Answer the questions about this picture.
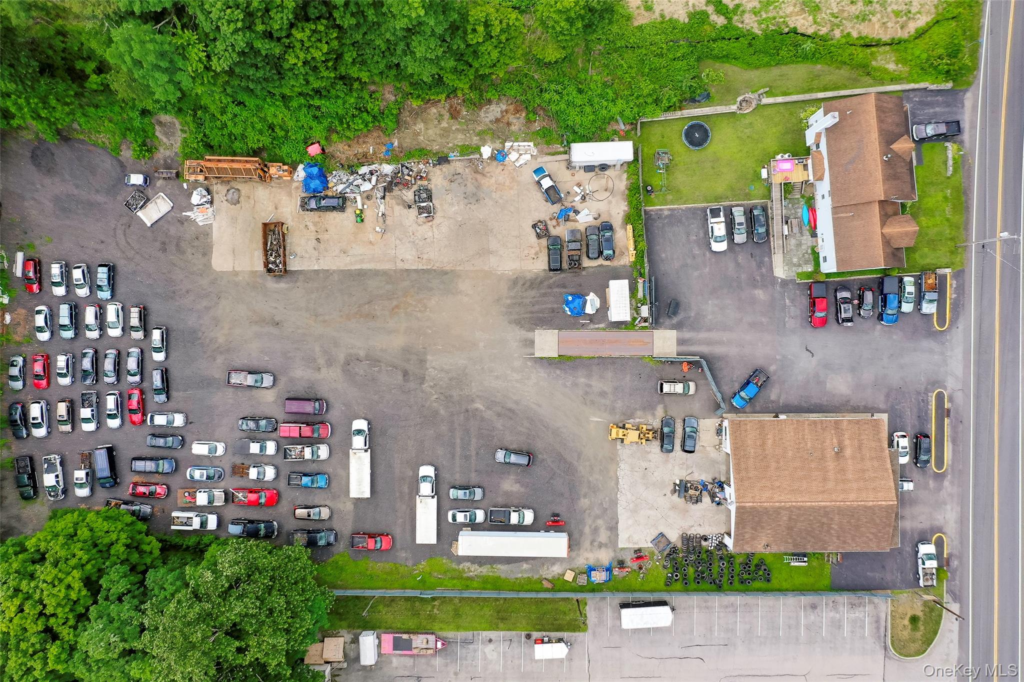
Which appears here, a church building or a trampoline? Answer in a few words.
trampoline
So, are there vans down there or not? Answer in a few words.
Yes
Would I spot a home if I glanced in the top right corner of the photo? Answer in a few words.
Yes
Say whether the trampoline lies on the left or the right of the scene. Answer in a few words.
right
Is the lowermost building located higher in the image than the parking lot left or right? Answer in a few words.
right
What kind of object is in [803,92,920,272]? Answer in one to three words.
house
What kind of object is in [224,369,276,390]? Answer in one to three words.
truck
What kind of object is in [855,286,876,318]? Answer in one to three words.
car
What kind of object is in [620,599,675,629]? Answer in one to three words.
trailer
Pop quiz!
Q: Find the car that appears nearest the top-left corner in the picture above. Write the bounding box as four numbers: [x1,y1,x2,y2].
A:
[125,171,151,188]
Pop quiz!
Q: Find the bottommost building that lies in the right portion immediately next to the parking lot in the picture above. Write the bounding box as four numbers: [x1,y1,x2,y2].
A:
[720,418,900,553]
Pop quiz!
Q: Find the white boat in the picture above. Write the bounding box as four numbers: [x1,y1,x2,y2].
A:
[582,291,602,314]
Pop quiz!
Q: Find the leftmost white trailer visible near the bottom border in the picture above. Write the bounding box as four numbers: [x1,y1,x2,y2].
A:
[359,626,381,666]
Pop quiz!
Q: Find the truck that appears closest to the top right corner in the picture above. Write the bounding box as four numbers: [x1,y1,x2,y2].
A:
[910,118,963,143]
